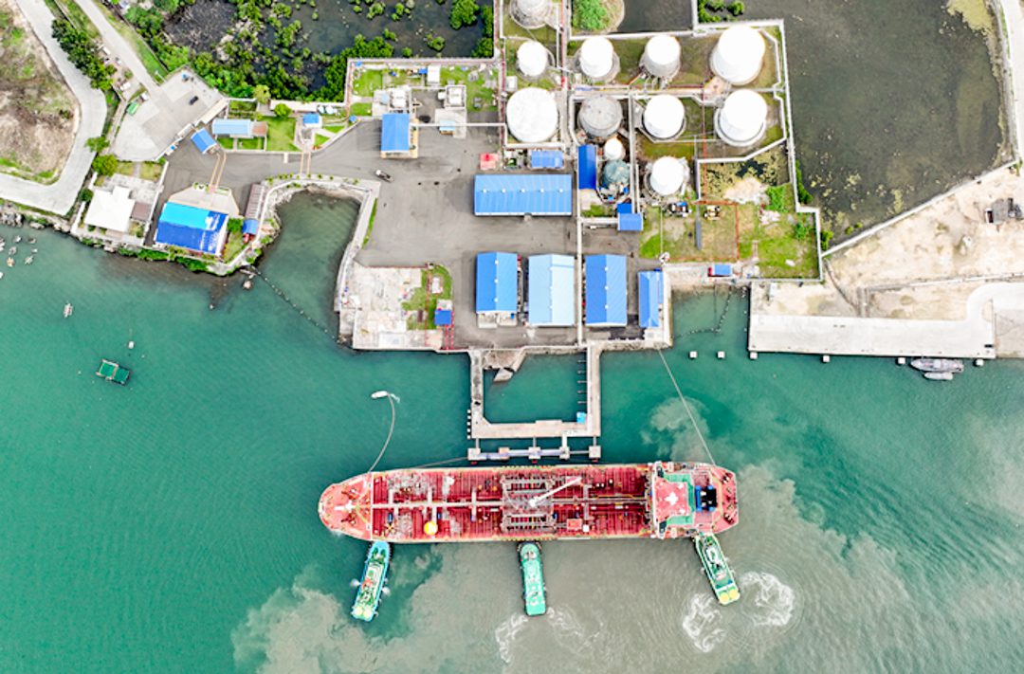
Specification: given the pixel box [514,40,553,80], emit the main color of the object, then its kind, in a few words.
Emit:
white storage tank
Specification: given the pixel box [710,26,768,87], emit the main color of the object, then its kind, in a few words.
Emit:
white storage tank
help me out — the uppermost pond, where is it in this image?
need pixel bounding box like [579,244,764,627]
[609,0,691,34]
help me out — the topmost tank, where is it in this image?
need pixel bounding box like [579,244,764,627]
[508,0,558,34]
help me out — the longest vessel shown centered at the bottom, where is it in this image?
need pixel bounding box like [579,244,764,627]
[318,461,738,543]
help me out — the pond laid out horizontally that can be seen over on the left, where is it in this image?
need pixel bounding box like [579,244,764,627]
[164,0,497,100]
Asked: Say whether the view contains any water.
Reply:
Yes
